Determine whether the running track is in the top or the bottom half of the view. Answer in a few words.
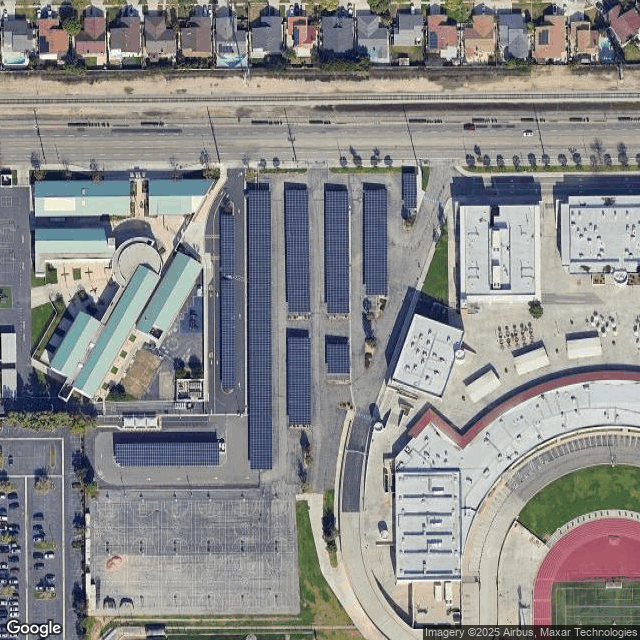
bottom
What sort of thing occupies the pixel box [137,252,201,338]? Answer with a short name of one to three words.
building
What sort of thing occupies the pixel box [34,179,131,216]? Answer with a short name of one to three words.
building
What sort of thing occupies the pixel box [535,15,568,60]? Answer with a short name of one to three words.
house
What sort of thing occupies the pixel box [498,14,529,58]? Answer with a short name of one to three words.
house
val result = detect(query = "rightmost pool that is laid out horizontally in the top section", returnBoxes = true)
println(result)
[215,52,244,67]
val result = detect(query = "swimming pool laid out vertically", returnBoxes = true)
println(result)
[600,38,612,64]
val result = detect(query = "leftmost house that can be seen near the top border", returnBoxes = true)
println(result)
[3,19,34,53]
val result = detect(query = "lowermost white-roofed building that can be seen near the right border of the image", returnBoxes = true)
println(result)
[396,371,640,591]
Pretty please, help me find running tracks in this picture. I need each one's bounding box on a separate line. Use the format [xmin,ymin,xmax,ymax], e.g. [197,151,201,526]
[533,517,640,640]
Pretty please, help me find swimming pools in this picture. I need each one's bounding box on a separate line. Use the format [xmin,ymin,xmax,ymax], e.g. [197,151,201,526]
[600,38,612,64]
[215,52,244,67]
[5,54,26,63]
